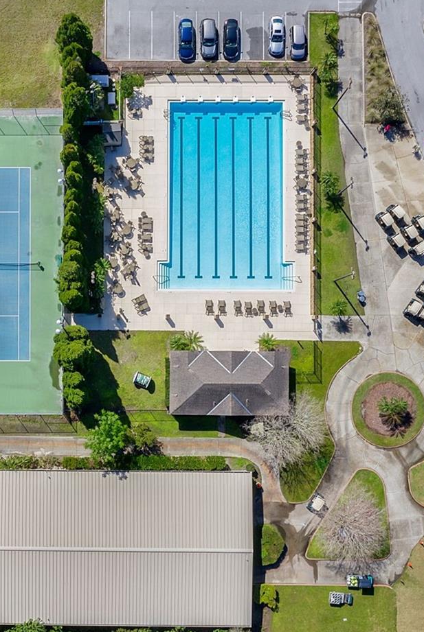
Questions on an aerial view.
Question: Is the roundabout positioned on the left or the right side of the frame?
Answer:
right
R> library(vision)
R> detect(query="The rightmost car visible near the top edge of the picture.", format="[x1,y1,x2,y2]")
[289,24,308,62]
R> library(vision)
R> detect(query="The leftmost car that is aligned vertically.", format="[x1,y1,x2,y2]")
[178,20,196,61]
